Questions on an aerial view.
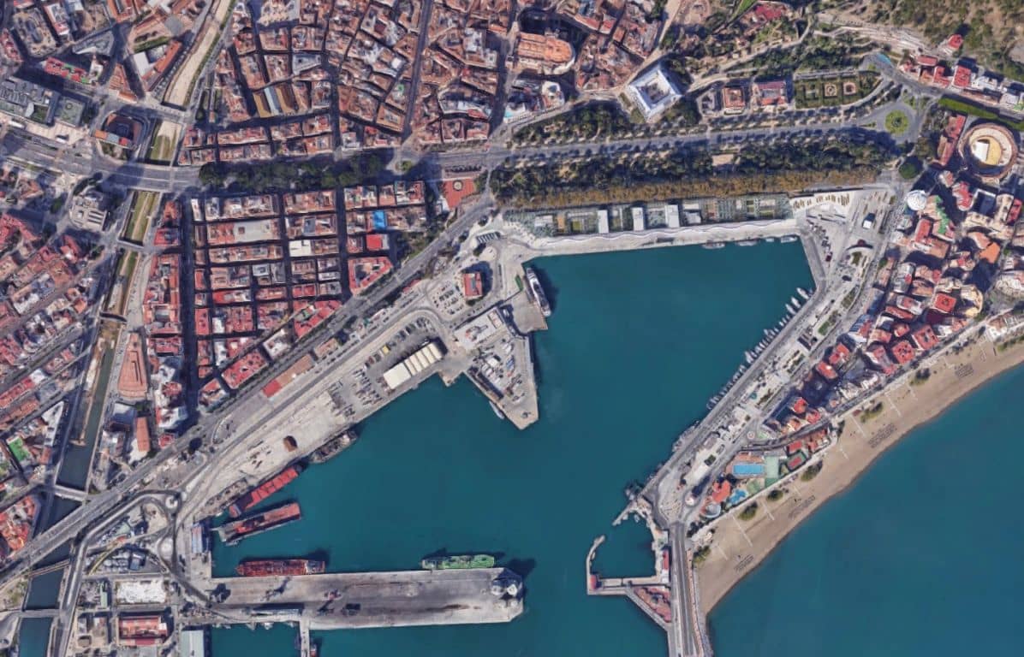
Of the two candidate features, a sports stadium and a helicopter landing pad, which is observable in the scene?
sports stadium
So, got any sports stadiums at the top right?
Yes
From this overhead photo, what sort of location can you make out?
port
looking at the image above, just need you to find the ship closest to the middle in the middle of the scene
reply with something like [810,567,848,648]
[528,268,549,318]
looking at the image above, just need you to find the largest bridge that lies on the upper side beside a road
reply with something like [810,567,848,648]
[127,159,176,190]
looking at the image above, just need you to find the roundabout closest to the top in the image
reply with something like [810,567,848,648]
[875,100,918,143]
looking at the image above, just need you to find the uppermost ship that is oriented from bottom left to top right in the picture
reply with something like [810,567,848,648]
[309,431,361,464]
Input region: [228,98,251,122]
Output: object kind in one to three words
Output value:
house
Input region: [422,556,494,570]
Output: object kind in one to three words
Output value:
ship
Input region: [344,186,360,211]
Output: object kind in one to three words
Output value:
building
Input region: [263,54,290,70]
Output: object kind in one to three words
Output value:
building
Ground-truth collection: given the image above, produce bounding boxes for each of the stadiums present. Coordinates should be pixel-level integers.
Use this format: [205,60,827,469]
[959,118,1019,176]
